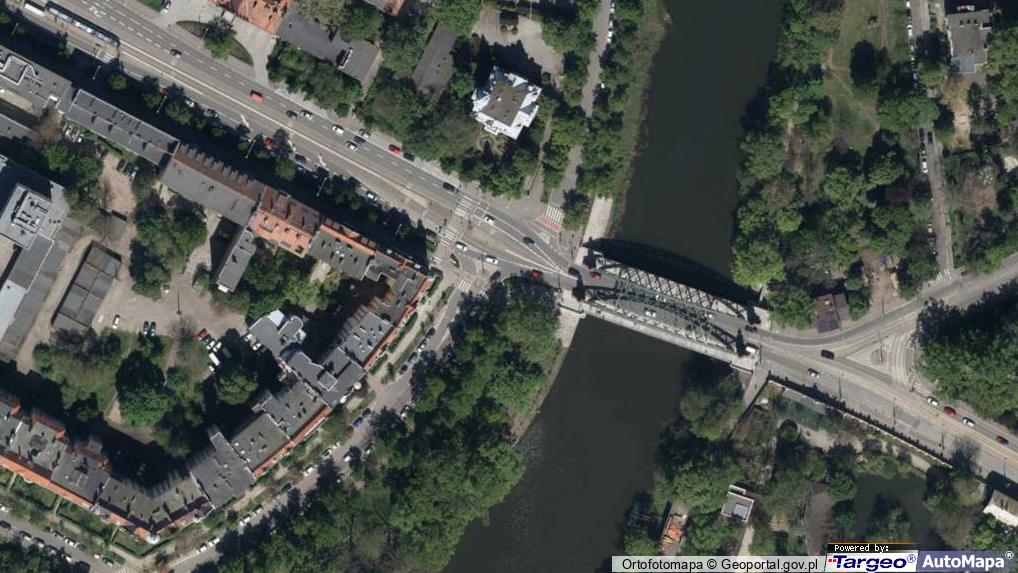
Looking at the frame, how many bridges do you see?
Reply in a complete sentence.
The picture shows just 1 bridge.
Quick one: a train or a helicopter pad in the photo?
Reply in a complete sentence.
This aerial view contains a train.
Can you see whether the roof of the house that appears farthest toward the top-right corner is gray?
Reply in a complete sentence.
Yes, the roof of the house that appears farthest toward the top-right corner is gray.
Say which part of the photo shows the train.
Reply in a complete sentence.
The train sits in the top left section of the image.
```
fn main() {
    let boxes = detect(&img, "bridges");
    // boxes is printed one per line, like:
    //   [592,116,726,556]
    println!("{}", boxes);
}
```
[570,258,761,365]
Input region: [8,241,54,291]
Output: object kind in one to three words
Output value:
building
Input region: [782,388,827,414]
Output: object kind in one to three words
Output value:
building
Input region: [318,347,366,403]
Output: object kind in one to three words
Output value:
house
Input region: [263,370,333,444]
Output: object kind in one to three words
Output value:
house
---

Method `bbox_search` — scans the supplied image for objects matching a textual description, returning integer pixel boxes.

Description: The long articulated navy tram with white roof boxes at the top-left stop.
[44,1,117,44]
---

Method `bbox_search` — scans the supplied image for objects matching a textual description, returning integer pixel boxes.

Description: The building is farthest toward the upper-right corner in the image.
[944,5,991,74]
